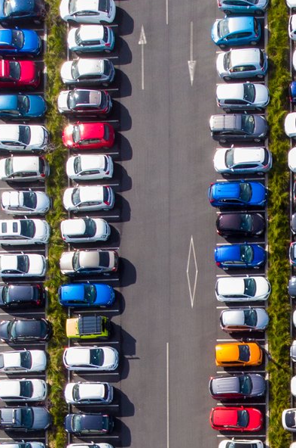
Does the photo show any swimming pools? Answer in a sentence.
No, I find no swimming pool anywhere in the image.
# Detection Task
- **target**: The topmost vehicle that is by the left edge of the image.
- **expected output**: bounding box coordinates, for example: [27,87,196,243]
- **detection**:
[0,0,46,30]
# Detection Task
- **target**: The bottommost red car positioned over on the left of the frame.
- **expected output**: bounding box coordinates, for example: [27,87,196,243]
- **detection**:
[64,123,116,152]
